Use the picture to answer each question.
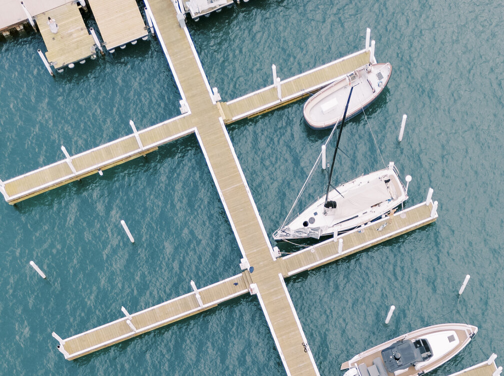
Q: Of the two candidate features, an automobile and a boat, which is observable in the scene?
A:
boat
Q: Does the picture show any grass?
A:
No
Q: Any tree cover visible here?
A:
No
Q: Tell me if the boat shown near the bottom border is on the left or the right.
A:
right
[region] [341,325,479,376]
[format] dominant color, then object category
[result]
white boat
